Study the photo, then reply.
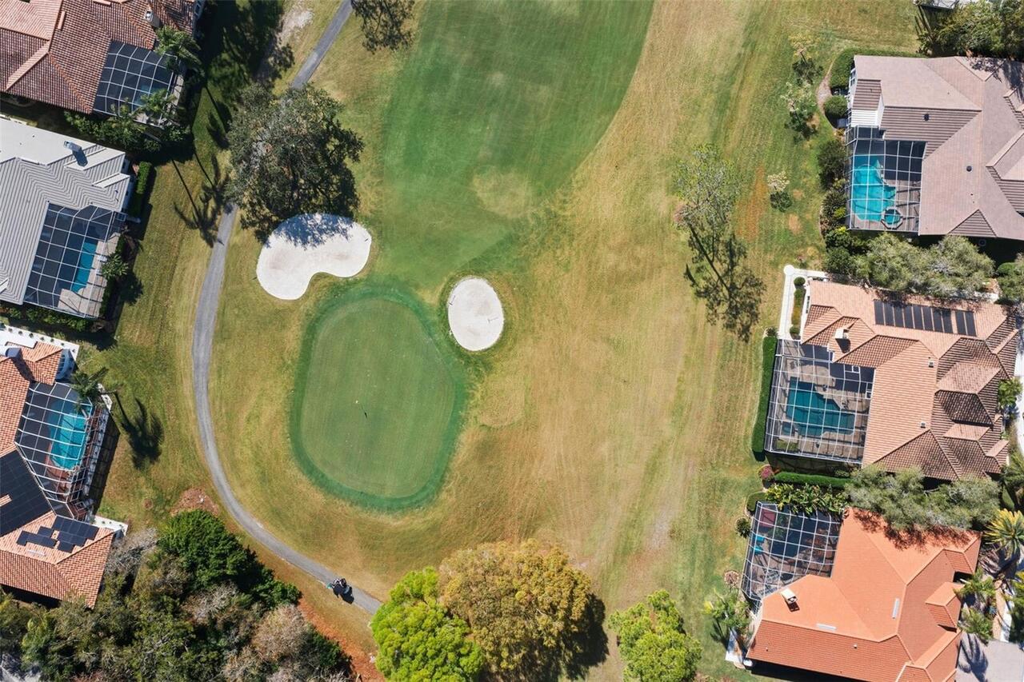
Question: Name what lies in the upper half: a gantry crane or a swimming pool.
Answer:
swimming pool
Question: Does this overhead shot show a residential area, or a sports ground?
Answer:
residential area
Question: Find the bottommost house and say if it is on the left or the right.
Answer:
right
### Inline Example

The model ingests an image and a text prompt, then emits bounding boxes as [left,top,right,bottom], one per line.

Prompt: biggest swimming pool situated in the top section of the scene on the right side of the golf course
[851,153,900,224]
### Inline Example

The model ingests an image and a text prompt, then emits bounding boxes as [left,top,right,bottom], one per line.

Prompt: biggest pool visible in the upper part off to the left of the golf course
[52,234,101,293]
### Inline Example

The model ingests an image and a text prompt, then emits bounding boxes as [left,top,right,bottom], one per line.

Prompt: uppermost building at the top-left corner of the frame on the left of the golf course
[0,0,214,115]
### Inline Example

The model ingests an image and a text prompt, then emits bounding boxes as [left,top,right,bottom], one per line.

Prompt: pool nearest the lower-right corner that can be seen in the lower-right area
[771,511,819,558]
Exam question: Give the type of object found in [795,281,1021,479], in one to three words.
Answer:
house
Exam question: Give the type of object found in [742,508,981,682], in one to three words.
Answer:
house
